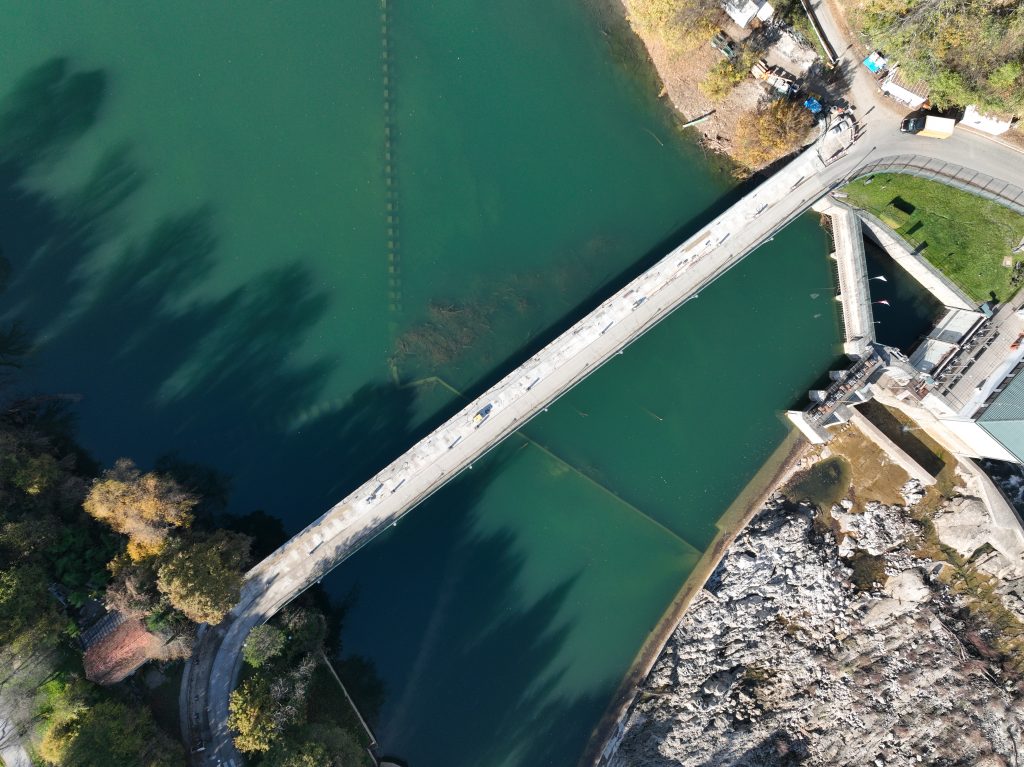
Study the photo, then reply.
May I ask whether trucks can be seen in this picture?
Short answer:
Yes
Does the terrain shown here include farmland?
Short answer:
No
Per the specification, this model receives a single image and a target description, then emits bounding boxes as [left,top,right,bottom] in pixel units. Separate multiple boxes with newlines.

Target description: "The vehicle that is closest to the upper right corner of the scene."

[900,111,965,138]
